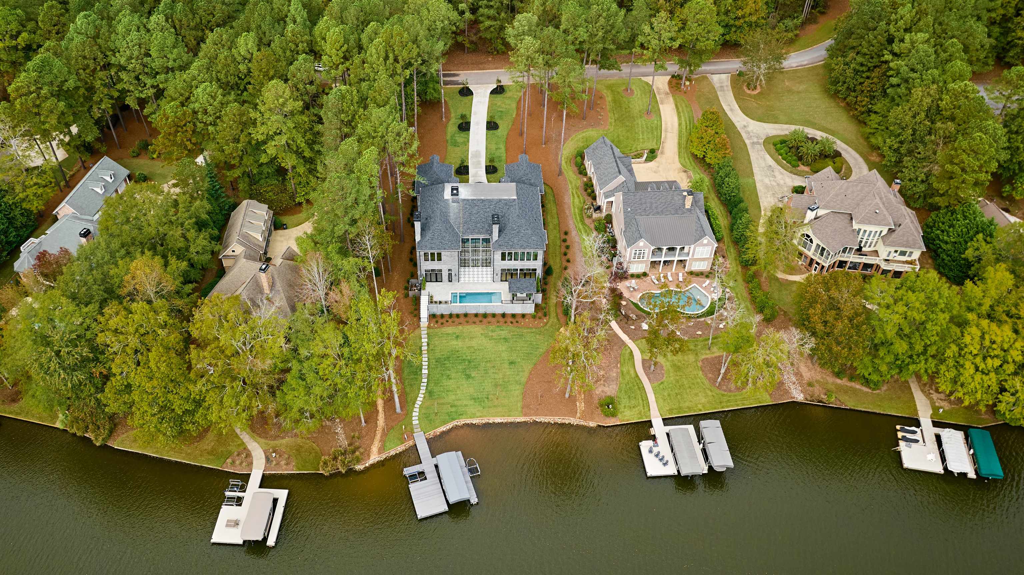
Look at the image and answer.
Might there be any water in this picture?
Yes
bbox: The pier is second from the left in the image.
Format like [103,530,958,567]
[403,431,479,522]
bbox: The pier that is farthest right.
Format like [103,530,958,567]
[894,418,977,480]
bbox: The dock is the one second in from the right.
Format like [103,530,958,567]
[638,417,708,480]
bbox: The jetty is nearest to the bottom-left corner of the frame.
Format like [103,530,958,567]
[210,469,290,551]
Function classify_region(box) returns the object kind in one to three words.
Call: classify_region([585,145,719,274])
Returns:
house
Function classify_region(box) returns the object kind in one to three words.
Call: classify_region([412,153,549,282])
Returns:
house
